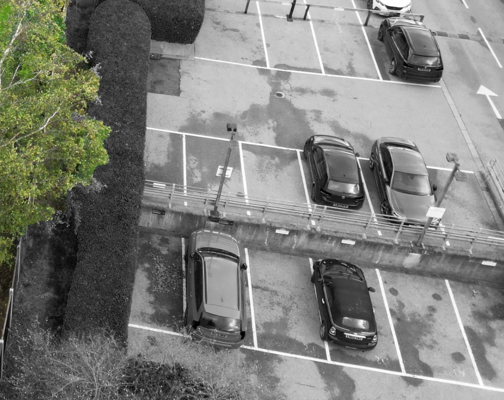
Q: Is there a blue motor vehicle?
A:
No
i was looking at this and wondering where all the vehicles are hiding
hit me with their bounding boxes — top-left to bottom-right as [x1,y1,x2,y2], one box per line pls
[381,15,450,77]
[369,0,413,11]
[312,251,387,347]
[367,130,447,232]
[304,129,374,209]
[189,230,256,347]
